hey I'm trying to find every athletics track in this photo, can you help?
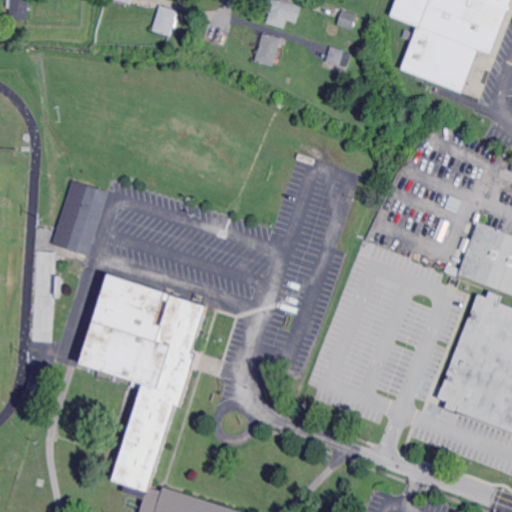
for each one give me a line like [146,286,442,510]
[0,82,40,428]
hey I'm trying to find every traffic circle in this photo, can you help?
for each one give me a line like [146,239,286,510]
[214,400,254,444]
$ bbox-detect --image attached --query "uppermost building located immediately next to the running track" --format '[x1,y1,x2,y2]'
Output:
[51,180,108,255]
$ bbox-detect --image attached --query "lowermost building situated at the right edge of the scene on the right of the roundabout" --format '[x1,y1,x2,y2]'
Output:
[430,290,512,434]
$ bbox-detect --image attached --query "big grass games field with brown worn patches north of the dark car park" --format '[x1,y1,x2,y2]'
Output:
[58,61,300,226]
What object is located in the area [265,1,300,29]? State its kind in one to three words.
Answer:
house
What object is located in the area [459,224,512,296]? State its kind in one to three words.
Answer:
building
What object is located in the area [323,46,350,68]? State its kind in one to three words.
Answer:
house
